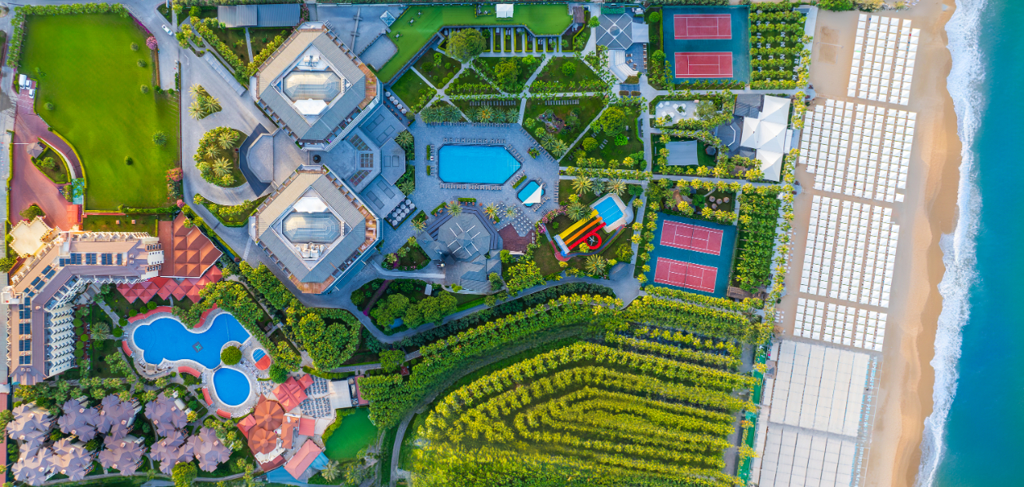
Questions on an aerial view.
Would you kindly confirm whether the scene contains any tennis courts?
Yes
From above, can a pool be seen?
Yes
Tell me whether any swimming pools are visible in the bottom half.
Yes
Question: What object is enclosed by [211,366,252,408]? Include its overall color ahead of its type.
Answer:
blue swimming pool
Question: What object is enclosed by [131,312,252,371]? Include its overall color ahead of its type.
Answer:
blue swimming pool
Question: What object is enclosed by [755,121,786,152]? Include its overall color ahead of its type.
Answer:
white tent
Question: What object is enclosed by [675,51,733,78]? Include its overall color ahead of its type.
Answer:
red tennis court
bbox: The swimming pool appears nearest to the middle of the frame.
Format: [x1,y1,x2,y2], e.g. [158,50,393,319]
[517,180,546,207]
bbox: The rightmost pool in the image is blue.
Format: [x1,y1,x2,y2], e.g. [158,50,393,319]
[594,196,623,227]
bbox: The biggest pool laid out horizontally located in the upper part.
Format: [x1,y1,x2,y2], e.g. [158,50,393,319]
[437,143,522,185]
